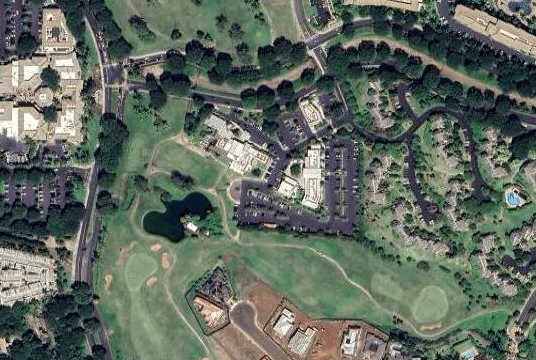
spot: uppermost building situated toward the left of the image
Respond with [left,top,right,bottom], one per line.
[42,9,78,54]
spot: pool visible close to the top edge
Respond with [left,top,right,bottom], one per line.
[507,0,531,15]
